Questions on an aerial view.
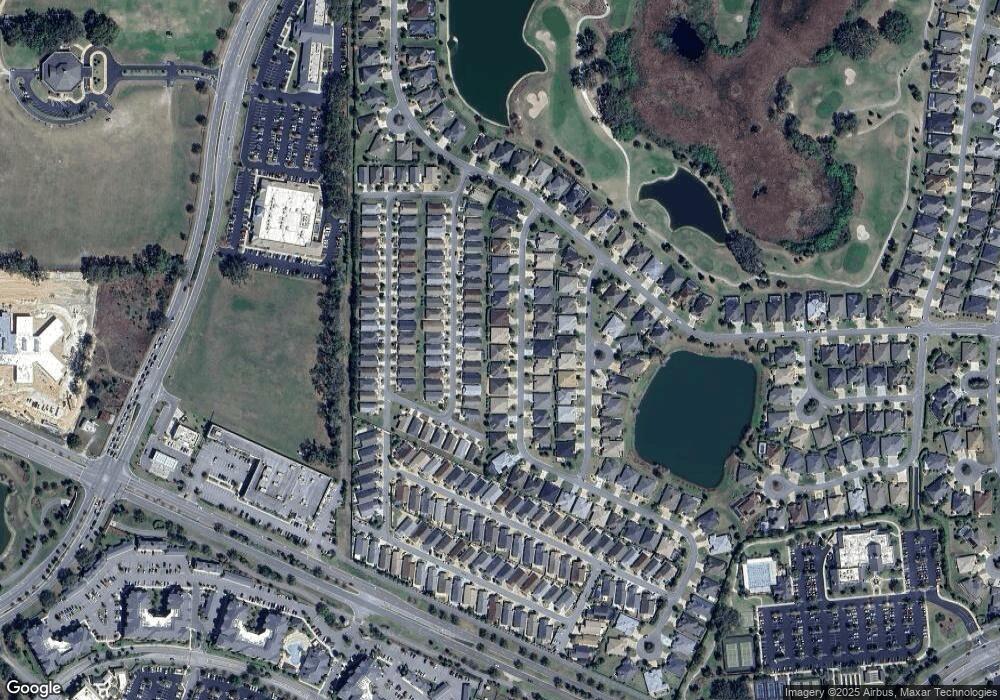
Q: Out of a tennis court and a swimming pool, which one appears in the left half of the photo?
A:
swimming pool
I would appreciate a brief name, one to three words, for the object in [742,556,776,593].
swimming pool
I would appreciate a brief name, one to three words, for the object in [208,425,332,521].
building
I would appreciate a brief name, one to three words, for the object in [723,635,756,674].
tennis court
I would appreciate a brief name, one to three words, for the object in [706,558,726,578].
house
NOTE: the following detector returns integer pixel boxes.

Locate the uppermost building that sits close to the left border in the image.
[42,52,93,91]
